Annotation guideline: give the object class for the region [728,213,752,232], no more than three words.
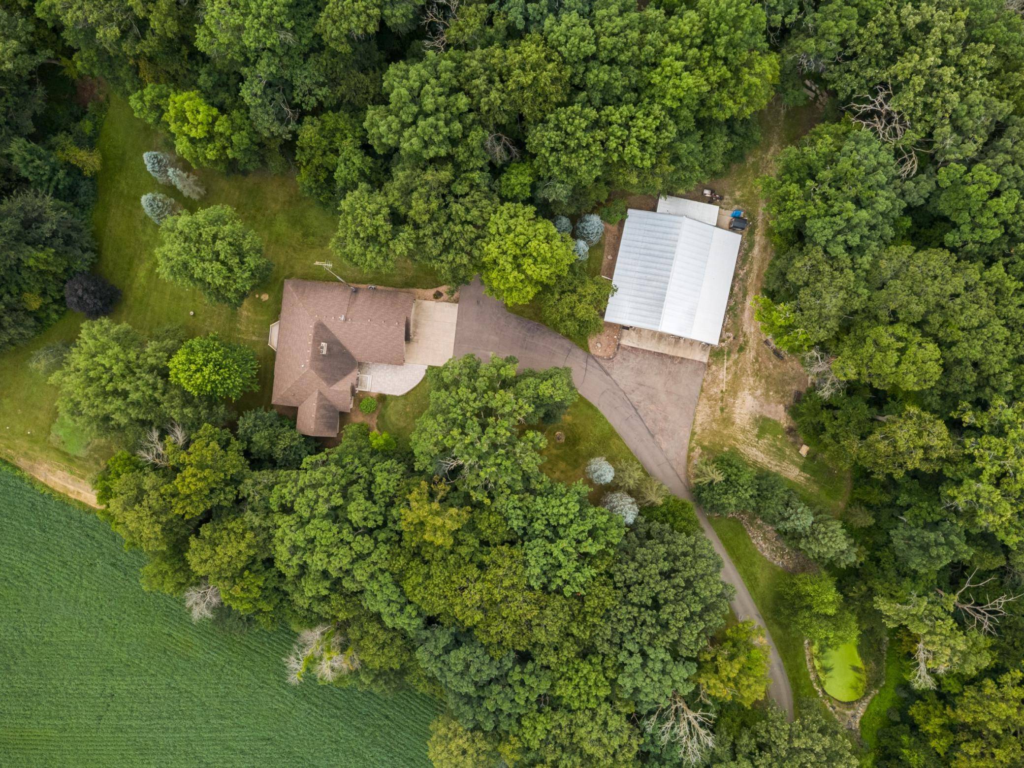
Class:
vehicle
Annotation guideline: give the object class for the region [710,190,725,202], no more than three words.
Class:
vehicle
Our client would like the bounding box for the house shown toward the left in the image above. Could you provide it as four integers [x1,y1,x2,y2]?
[271,279,416,437]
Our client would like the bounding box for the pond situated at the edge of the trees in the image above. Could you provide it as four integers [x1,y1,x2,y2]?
[812,619,865,699]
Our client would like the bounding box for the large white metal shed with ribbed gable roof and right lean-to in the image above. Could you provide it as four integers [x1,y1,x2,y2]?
[603,208,742,345]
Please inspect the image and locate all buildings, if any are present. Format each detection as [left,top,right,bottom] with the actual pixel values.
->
[603,208,742,345]
[271,279,416,437]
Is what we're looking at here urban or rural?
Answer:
rural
